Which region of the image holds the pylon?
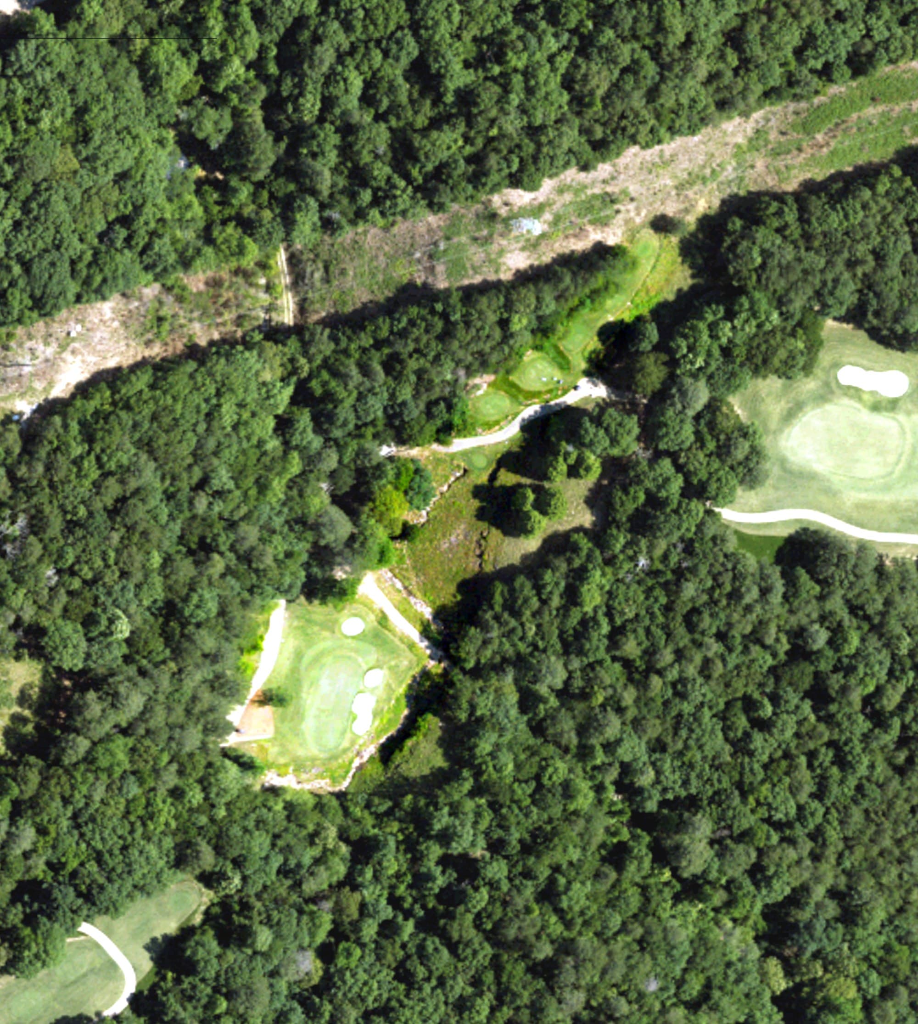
top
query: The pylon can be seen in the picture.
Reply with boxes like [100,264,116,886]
[508,217,541,240]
